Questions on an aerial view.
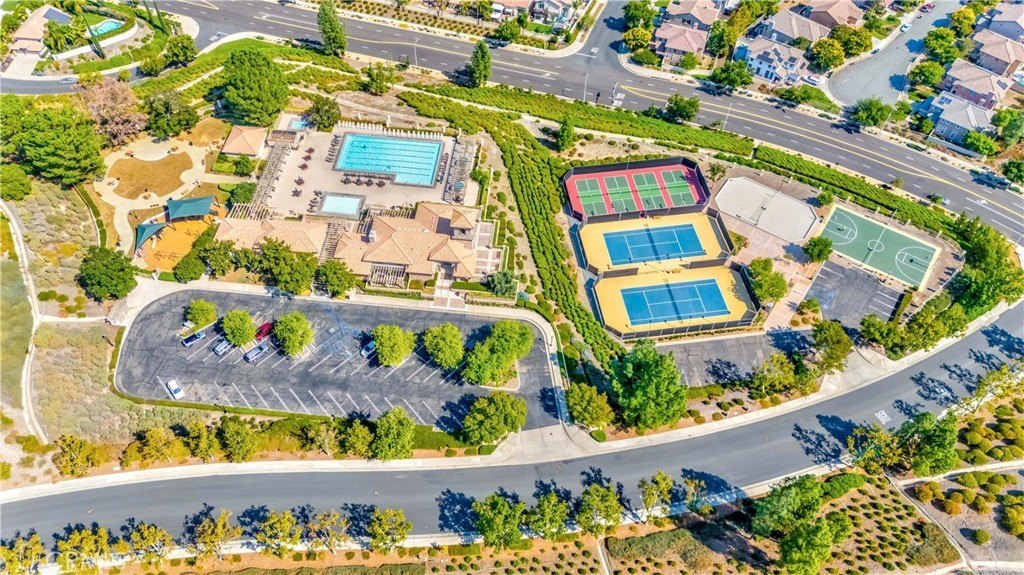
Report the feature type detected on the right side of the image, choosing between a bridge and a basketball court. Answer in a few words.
basketball court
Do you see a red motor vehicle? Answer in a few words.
Yes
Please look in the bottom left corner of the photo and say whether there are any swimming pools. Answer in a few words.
No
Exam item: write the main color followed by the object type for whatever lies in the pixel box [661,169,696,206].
green sports court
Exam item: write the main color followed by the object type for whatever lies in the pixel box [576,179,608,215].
green sports court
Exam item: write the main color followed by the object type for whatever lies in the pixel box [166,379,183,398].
white car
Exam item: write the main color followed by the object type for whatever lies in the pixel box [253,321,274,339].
red car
